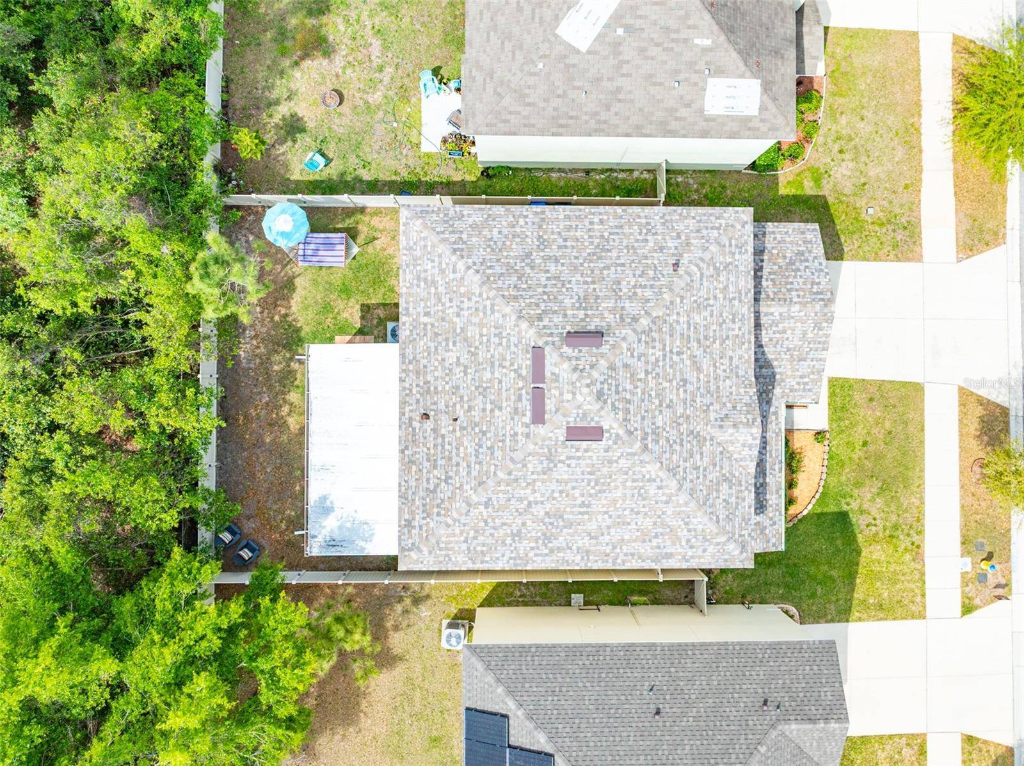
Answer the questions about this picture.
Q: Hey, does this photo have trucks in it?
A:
No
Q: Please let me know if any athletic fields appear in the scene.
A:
No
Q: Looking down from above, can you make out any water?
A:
No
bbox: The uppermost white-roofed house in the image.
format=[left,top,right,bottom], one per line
[459,0,826,170]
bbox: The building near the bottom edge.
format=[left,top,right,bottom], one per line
[462,599,853,766]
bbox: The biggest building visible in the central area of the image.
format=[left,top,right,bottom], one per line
[399,206,840,570]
